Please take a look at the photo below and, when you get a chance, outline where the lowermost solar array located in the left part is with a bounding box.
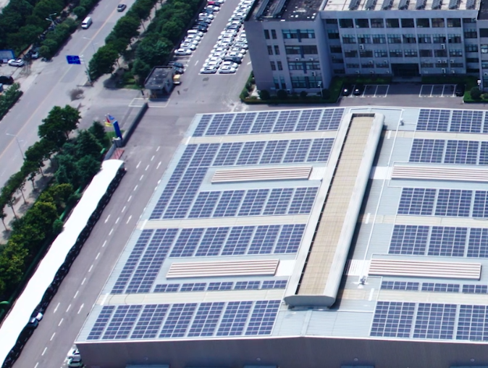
[87,300,282,340]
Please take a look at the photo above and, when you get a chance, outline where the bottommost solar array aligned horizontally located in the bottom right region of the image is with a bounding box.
[370,302,488,341]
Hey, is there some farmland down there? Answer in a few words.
No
